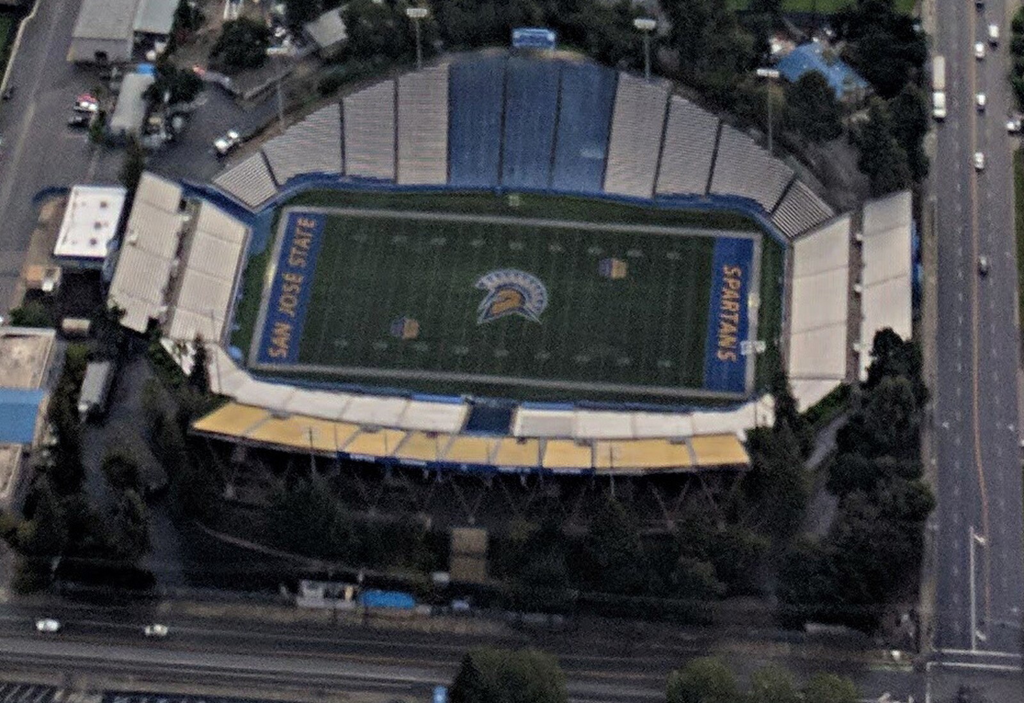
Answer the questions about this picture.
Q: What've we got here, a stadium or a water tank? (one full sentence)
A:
Of the two, only a stadium appears.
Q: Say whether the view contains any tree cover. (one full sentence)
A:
Yes, there is tree cover in the image.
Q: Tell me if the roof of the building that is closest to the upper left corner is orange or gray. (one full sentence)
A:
The roof of the building that is closest to the upper left corner looks gray in the image.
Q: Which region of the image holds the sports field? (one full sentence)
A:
Look in the center portion of the view to spot the sports field.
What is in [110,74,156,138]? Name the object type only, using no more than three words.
building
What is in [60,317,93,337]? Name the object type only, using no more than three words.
shed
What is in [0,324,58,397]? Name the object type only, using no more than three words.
building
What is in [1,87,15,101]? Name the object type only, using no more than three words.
car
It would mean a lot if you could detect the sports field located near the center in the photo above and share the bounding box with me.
[230,189,782,407]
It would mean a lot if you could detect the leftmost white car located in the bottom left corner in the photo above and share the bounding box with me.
[35,619,59,631]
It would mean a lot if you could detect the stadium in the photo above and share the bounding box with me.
[107,55,914,514]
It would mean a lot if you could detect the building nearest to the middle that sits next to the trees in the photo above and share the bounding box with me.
[448,527,490,559]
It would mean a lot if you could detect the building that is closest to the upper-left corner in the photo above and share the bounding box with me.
[67,0,140,63]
